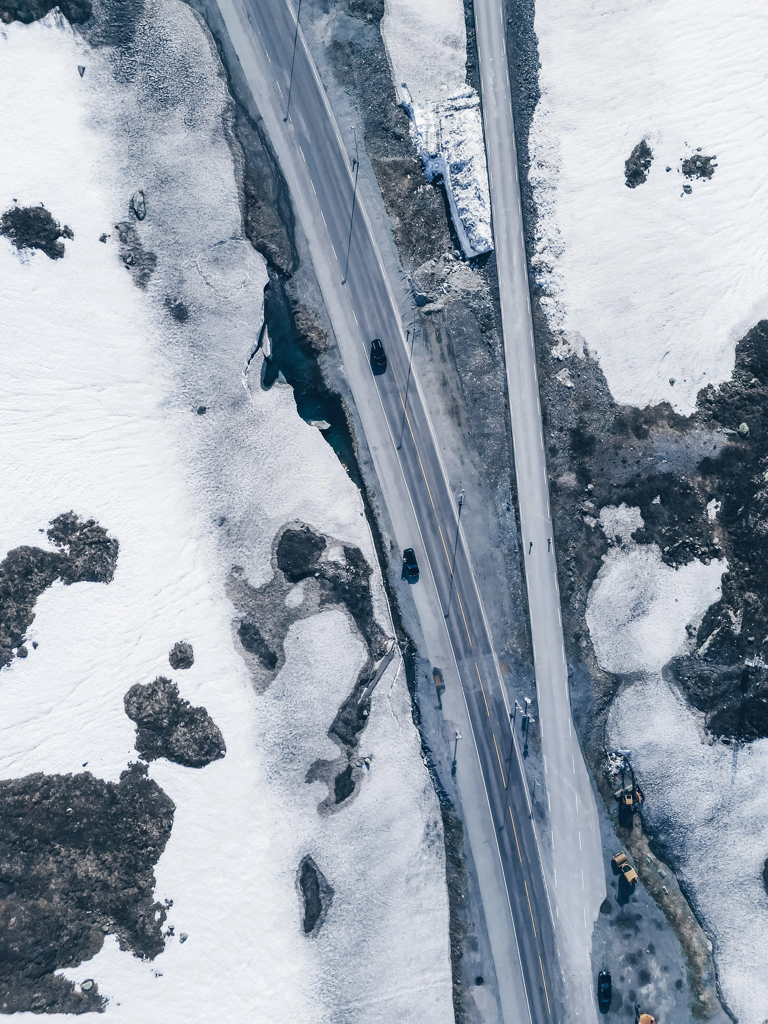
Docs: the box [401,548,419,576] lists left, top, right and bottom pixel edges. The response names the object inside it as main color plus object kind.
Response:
black car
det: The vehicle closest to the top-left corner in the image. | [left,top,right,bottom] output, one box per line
[373,337,388,366]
